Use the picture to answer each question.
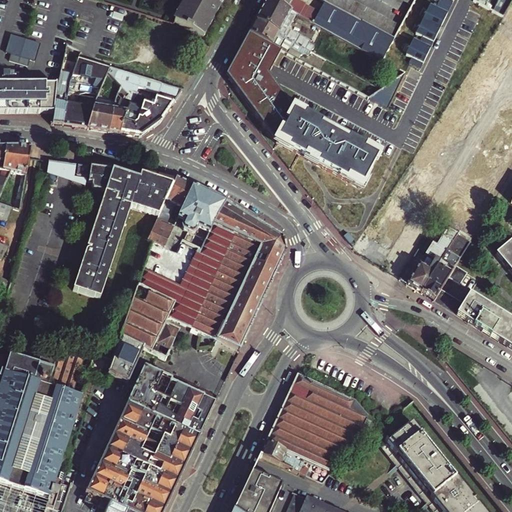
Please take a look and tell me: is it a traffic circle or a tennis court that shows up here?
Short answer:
traffic circle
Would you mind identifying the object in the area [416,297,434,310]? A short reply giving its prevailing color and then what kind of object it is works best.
white vehicle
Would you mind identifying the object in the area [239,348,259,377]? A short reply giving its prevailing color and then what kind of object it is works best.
white bus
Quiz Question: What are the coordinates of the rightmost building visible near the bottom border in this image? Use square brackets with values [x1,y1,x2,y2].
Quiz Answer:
[434,472,490,512]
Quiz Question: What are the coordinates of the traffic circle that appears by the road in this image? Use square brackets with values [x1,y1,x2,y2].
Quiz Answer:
[276,252,372,348]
